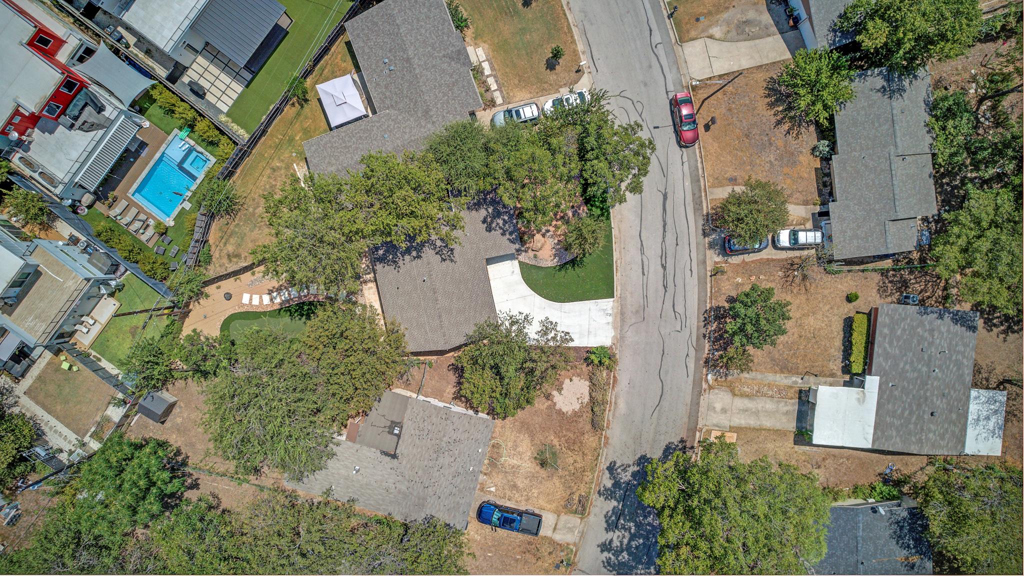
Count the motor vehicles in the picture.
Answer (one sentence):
The picture shows 6 motor vehicles.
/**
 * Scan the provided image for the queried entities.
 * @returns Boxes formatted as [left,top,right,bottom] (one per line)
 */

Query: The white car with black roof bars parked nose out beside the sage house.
[775,224,825,253]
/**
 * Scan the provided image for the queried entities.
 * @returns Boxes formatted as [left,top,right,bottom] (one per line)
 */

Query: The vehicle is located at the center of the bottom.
[476,498,546,537]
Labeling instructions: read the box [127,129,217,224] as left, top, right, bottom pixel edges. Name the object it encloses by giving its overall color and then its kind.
blue swimming pool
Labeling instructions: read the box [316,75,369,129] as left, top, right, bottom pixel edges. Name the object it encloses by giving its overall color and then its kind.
white gazebo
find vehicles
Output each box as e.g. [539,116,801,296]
[775,224,825,253]
[541,83,593,118]
[490,98,541,130]
[476,498,546,537]
[668,92,701,148]
[724,231,769,258]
